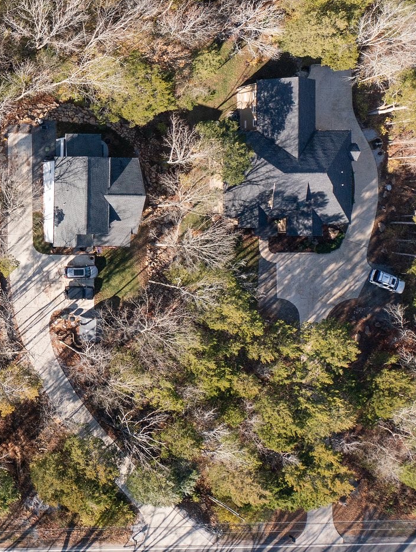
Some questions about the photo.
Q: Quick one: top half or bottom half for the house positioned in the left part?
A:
top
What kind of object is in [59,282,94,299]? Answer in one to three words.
car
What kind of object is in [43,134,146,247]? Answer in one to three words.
house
